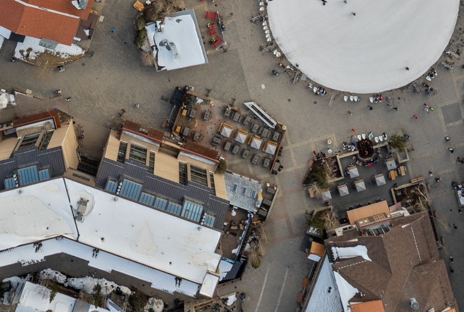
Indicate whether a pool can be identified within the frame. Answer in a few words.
No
